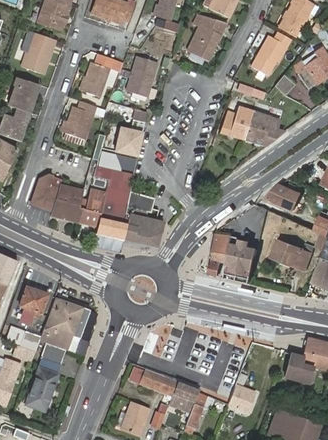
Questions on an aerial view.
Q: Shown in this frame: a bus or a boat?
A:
bus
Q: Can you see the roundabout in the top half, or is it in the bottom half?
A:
bottom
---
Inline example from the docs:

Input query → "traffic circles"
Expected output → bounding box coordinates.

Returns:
[100,253,180,324]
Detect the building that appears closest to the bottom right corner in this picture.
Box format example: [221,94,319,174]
[268,410,322,440]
